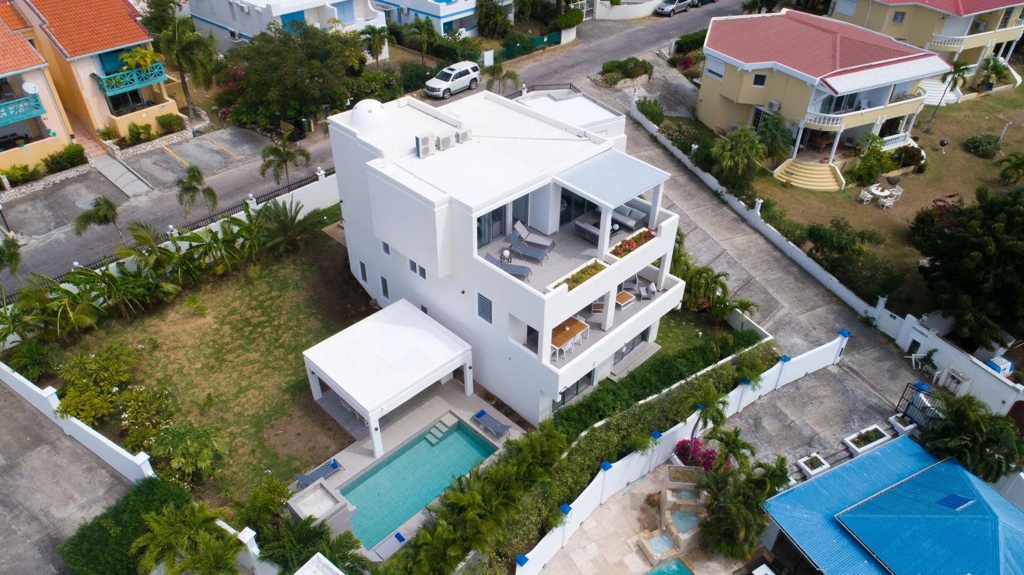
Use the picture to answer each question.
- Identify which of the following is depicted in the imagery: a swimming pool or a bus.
swimming pool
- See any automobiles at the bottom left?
No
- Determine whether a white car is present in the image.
Yes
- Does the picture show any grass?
Yes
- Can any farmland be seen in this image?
No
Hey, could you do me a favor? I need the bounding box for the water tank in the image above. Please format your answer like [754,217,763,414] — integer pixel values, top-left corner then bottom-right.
[984,352,1023,379]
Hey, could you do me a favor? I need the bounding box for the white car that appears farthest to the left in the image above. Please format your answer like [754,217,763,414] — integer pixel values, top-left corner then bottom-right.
[420,59,483,100]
